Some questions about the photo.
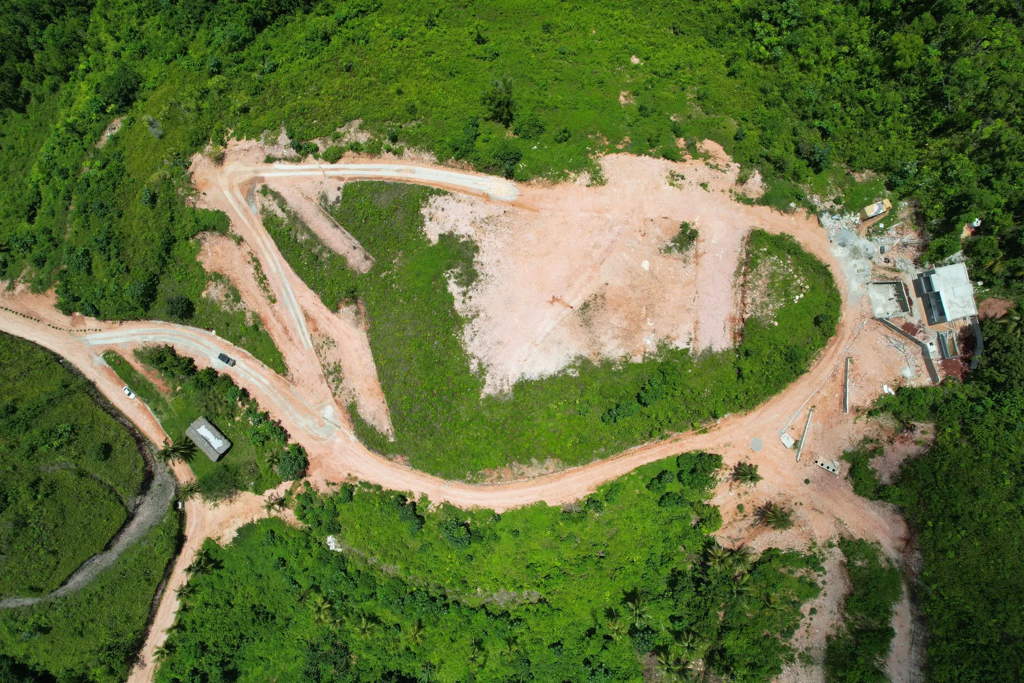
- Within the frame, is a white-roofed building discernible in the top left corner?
No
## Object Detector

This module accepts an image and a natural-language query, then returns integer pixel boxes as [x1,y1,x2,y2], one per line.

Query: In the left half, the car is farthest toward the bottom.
[122,385,137,399]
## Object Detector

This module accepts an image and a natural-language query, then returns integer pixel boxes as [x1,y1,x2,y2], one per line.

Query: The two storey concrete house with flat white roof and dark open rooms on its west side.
[912,263,978,323]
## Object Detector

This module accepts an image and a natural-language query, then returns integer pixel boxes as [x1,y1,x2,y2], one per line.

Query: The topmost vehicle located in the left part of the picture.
[219,352,237,366]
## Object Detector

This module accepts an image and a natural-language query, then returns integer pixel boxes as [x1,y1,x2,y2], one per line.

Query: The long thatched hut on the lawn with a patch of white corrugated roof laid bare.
[188,416,232,461]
